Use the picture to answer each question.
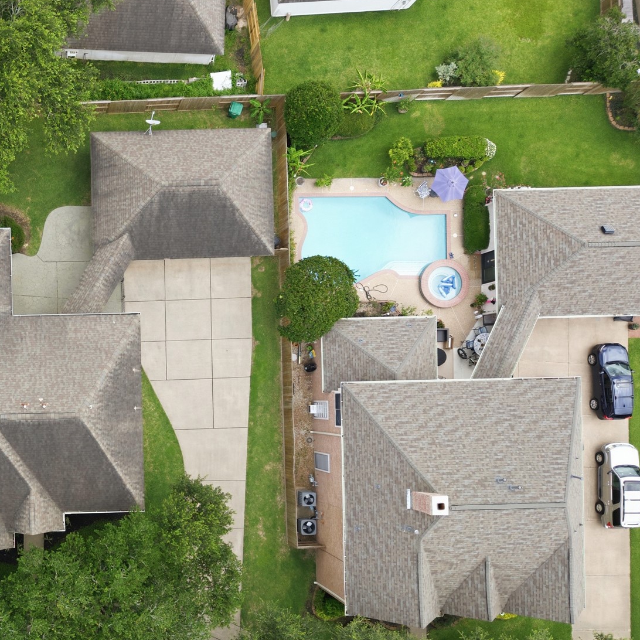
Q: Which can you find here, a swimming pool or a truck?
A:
swimming pool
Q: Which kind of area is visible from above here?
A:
residential area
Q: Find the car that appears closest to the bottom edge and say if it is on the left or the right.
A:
right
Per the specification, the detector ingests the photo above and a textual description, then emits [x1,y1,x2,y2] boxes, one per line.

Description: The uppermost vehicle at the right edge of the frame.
[590,343,638,420]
